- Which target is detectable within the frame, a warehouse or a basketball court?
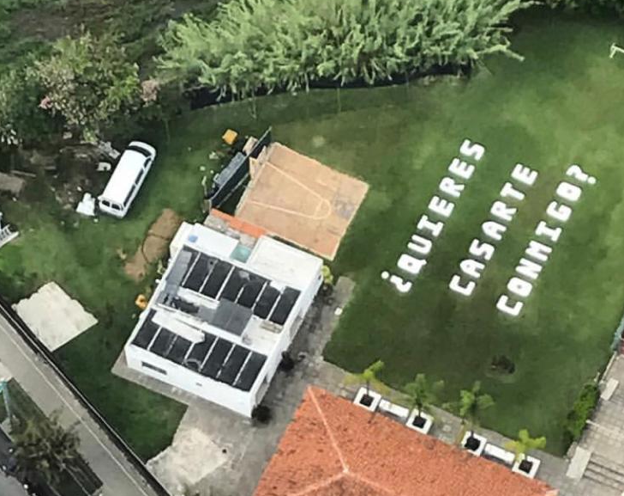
basketball court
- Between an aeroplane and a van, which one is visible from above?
van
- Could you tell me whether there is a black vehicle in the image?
No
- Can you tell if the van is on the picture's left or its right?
left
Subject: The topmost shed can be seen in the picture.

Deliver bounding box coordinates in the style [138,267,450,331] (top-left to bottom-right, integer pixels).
[211,138,255,191]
